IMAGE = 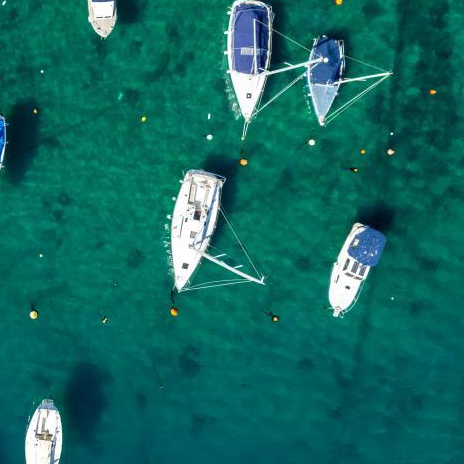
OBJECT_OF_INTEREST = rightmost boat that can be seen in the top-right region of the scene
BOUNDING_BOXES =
[303,34,394,127]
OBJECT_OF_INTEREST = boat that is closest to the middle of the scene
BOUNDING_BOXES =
[165,169,266,305]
